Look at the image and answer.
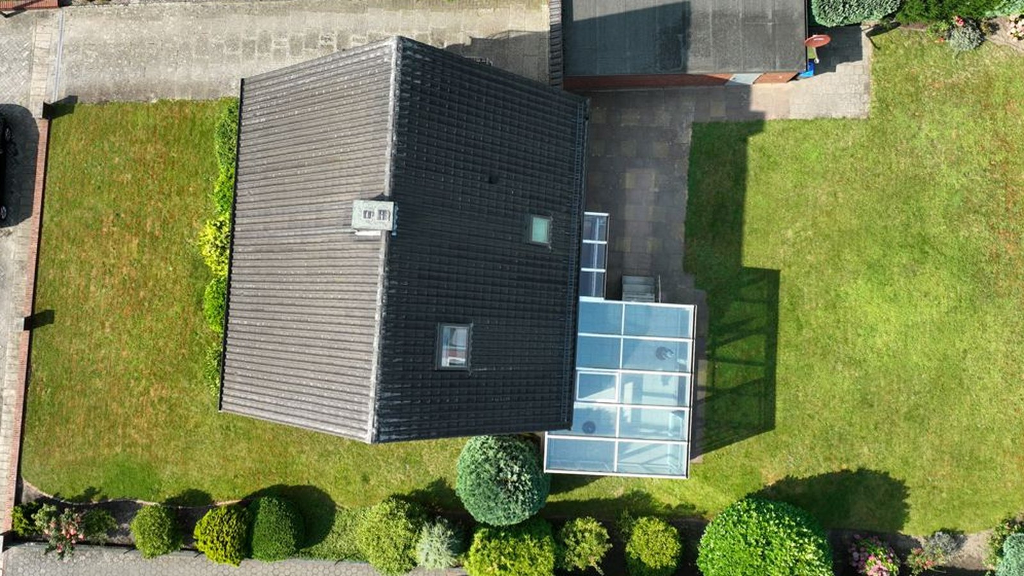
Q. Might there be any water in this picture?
No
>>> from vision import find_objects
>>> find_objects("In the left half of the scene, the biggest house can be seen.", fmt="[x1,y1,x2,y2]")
[216,42,593,447]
